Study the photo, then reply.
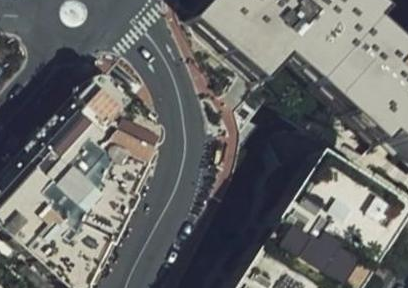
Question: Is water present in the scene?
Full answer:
No, there's no water in this view.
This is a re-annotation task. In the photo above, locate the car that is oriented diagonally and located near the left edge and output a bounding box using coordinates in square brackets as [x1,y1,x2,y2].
[6,80,22,96]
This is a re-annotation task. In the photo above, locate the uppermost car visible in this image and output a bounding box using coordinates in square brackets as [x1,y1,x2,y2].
[138,45,153,62]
